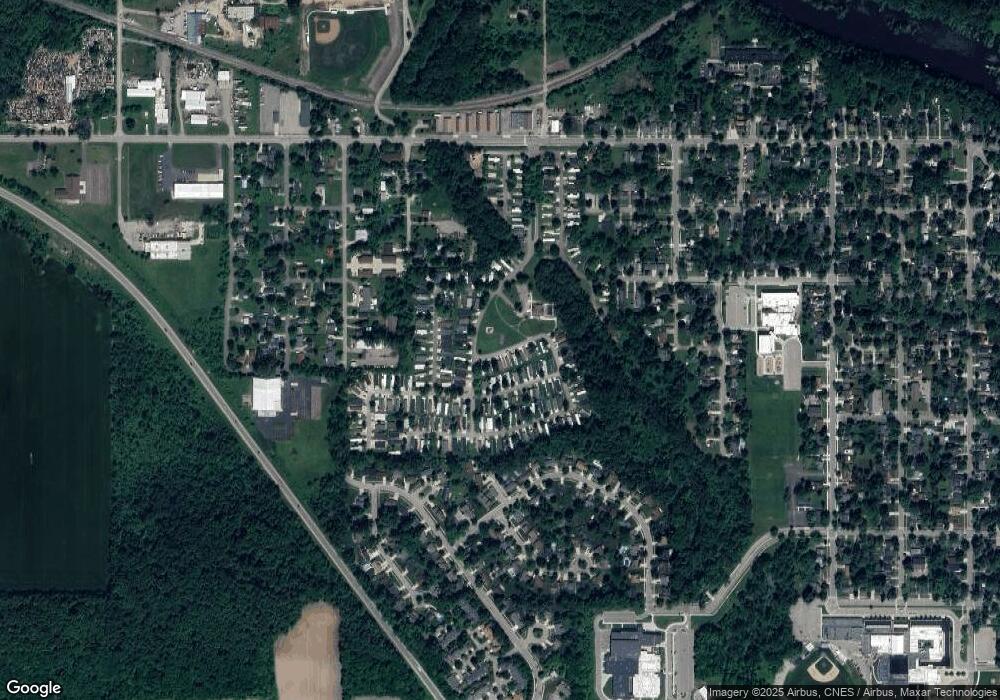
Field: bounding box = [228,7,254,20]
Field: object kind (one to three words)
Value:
barn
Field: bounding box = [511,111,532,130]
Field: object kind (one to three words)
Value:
building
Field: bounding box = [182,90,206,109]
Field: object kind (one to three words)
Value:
building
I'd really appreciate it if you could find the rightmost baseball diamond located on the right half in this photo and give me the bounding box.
[787,644,868,700]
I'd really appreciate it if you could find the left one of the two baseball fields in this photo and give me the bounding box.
[308,7,390,95]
